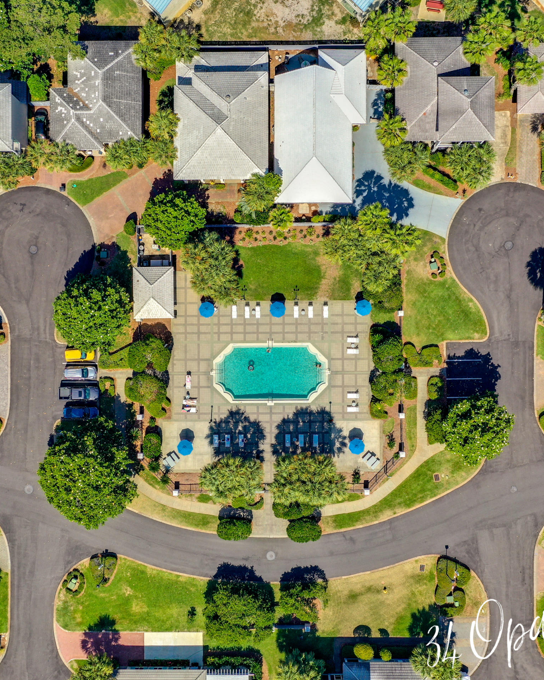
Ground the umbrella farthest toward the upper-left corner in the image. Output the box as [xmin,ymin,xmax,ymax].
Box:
[199,302,215,318]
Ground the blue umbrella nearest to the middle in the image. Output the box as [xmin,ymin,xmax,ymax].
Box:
[270,301,286,318]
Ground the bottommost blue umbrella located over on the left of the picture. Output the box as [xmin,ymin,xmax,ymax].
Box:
[177,439,193,456]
